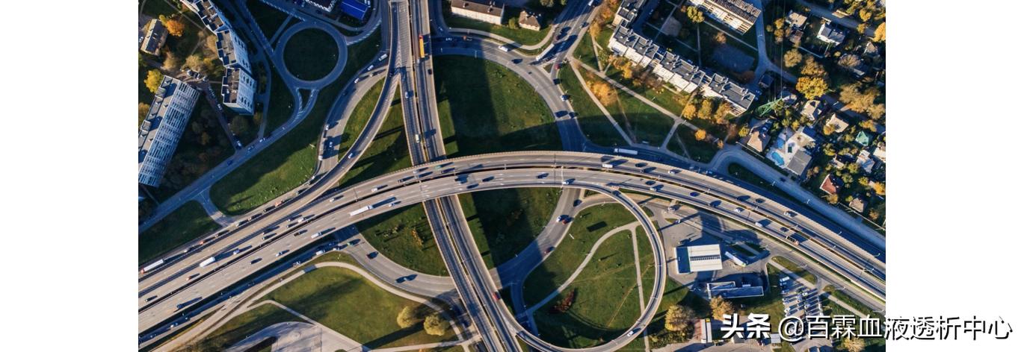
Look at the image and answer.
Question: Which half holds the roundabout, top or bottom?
top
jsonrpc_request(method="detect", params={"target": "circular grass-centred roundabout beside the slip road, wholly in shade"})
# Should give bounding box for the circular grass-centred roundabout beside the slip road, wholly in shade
[274,18,348,91]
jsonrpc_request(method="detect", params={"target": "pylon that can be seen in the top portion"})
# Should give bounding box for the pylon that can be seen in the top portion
[753,101,786,117]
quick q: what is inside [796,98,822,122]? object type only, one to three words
house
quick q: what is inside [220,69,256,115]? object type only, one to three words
building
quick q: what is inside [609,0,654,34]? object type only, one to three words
building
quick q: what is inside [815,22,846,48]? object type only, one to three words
house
